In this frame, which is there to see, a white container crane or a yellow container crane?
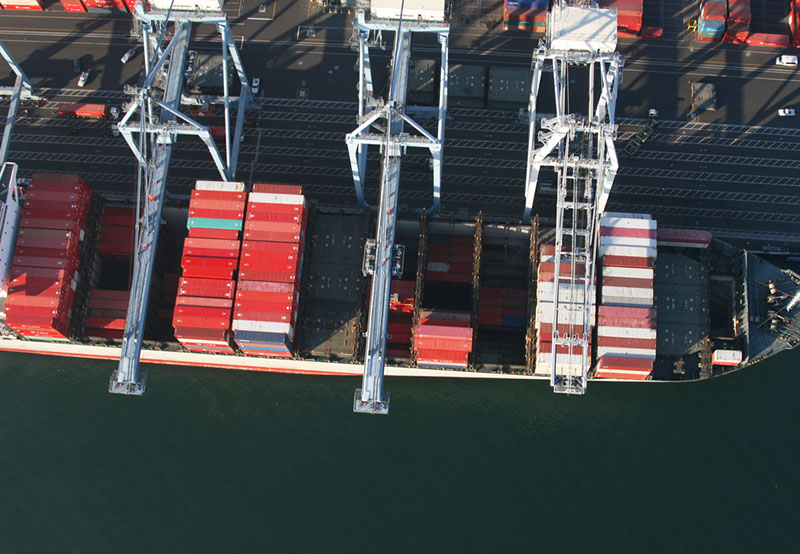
white container crane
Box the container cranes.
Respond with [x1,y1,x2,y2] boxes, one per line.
[512,1,631,399]
[0,40,48,188]
[341,0,456,415]
[105,0,266,399]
